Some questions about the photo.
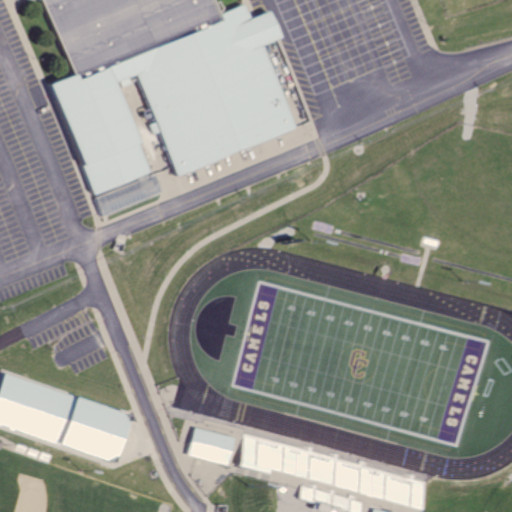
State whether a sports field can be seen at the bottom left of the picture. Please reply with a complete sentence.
Yes, a sports field can be seen at the bottom left of the picture.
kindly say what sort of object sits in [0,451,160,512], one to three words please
sports field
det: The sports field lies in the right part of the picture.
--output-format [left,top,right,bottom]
[191,270,512,456]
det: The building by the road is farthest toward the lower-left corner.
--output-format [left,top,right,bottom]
[0,372,133,464]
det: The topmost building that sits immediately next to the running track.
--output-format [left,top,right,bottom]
[40,0,296,211]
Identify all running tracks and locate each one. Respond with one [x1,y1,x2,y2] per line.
[168,248,512,478]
